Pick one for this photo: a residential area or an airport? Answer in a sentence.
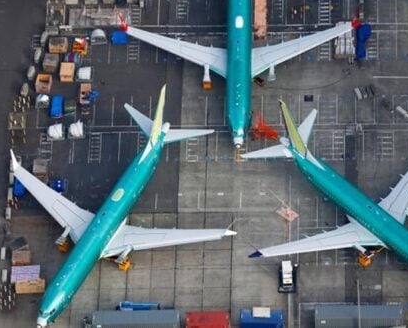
This image shows an airport.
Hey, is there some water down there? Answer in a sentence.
No, there is no water in the image.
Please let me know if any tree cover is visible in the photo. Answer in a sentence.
No, there's no tree cover in this view.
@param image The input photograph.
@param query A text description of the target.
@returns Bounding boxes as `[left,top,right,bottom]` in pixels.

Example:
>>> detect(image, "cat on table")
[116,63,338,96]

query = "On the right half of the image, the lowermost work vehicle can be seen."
[278,263,297,295]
